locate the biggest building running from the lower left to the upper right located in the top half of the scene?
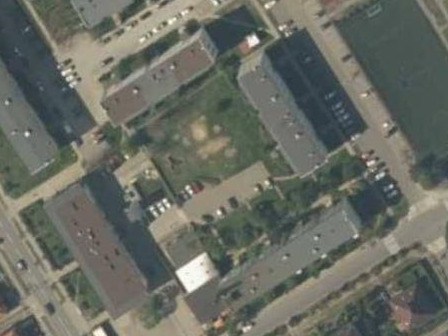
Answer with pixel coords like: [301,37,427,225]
[103,32,220,124]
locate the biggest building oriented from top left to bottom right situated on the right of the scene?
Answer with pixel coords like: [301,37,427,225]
[237,53,327,175]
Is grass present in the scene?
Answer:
Yes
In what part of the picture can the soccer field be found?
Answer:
top right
